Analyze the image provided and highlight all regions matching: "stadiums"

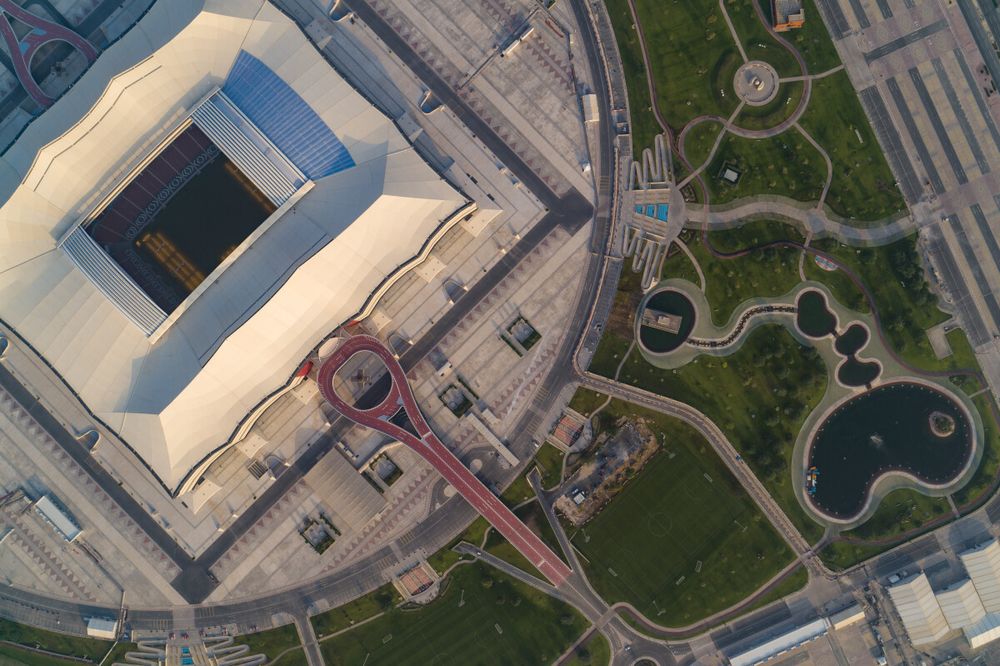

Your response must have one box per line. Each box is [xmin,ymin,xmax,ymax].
[0,0,503,513]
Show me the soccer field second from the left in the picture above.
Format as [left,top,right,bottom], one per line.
[355,577,539,666]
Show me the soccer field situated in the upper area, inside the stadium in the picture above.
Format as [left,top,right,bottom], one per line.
[136,154,286,298]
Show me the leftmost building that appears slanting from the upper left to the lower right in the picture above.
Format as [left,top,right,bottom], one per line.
[35,495,85,542]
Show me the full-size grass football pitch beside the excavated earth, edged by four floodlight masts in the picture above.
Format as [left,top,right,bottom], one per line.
[571,437,748,611]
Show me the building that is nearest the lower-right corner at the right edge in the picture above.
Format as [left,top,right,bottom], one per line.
[960,610,1000,641]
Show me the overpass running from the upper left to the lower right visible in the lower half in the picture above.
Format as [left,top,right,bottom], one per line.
[317,335,571,588]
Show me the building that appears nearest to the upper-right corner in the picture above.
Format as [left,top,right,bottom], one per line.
[772,0,806,31]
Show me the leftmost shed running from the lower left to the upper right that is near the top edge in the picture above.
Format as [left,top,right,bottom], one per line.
[501,24,534,58]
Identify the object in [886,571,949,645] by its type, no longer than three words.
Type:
tent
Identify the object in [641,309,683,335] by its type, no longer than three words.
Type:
building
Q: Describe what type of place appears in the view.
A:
sports ground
